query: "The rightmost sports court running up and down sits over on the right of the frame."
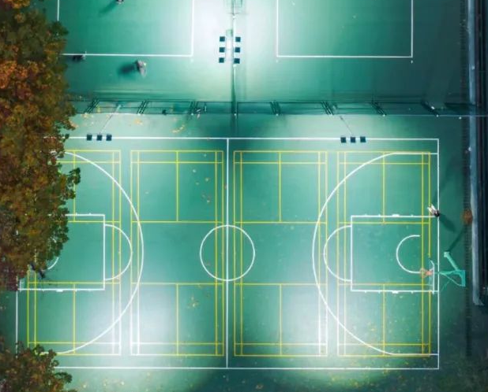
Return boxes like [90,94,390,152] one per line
[337,151,431,357]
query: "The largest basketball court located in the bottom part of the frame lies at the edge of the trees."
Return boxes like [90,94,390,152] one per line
[11,135,444,372]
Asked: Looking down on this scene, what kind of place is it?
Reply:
sports ground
